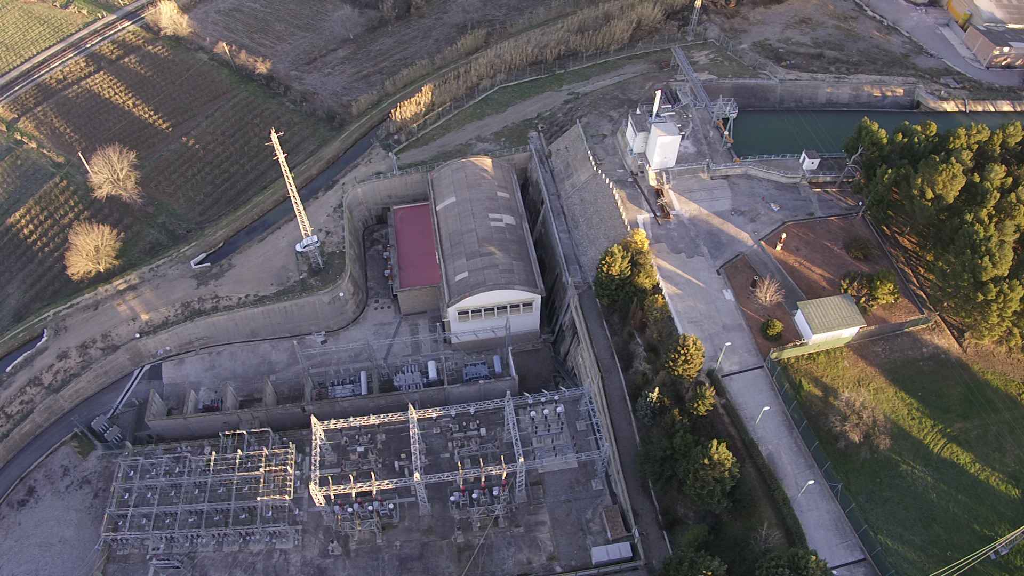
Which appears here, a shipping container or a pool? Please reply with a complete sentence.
I can see a shipping container in this picture.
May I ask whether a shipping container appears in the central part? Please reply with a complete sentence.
No, I see no shipping container in the central part.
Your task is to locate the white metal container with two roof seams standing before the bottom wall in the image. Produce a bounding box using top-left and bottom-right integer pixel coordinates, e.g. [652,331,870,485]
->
[588,539,633,568]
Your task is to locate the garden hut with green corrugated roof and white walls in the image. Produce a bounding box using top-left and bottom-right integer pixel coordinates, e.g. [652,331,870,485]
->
[794,293,867,342]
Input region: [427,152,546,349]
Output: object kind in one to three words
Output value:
building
